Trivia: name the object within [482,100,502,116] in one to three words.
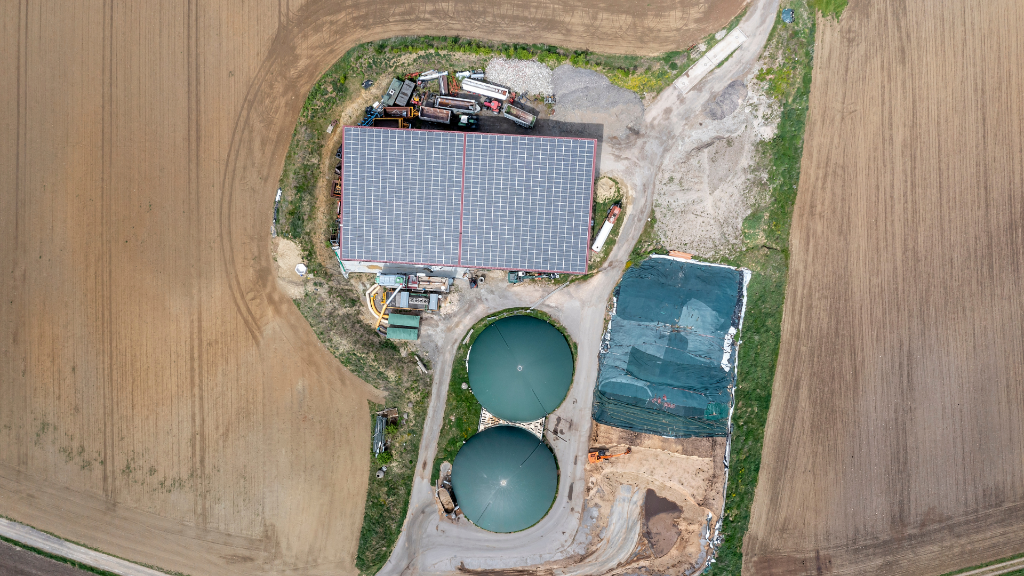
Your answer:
work vehicle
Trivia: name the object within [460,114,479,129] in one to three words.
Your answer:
work vehicle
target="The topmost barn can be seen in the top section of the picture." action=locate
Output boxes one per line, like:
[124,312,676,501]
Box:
[340,126,597,275]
